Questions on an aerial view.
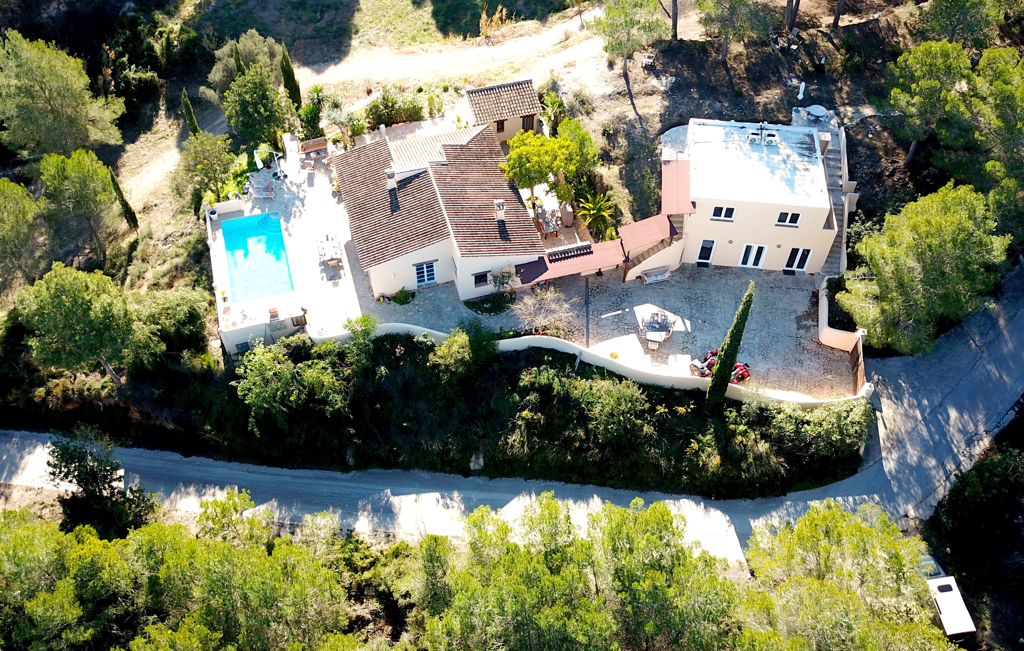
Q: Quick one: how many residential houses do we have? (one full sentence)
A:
The number of residential houses here is 2.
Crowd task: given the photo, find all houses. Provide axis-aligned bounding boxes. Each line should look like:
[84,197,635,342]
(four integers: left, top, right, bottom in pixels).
[333,123,547,301]
[682,118,837,275]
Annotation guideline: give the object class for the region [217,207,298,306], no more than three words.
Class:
swimming pool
